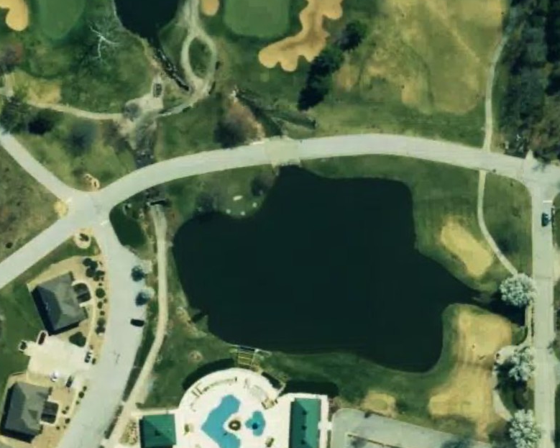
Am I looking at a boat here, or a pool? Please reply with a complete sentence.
Of the two, only a pool appears.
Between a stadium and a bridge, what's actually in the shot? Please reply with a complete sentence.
The one in the frame is a bridge.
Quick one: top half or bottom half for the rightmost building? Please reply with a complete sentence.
The bottom half of the photo is where the rightmost building is.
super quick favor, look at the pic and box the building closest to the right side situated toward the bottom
[291,399,321,448]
